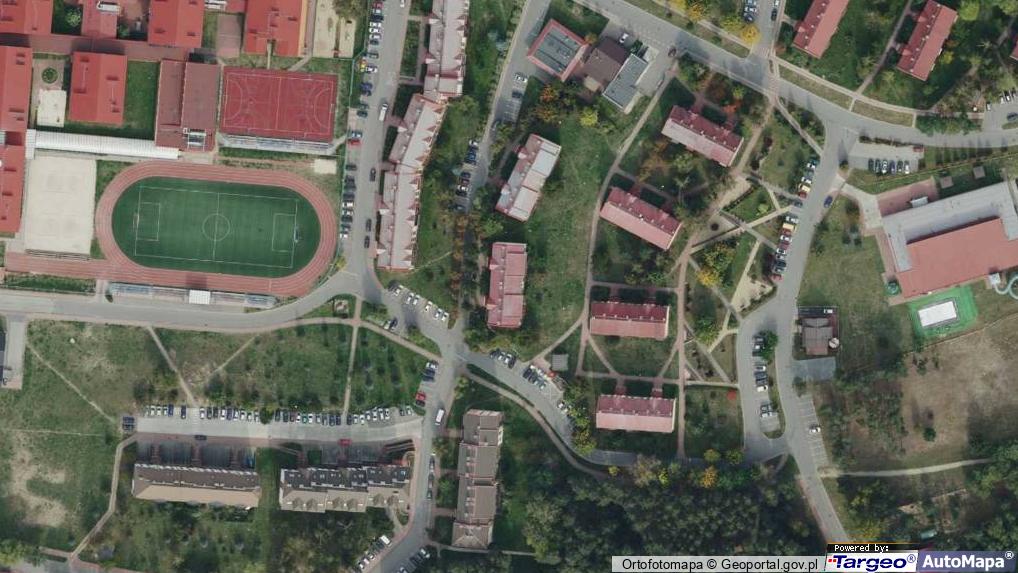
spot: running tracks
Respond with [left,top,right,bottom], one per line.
[5,160,336,295]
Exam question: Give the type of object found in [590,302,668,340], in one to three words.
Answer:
building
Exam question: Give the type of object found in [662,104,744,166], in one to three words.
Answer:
building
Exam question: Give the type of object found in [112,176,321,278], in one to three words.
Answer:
sports field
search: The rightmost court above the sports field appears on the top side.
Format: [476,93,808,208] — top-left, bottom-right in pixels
[220,67,338,142]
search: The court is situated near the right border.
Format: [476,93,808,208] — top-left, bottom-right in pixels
[908,285,978,338]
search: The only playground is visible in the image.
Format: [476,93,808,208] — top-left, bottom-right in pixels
[733,272,774,309]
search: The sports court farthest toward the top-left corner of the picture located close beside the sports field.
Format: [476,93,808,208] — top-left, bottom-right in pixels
[25,154,96,255]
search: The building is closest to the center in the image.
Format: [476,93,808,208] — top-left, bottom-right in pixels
[487,242,529,327]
